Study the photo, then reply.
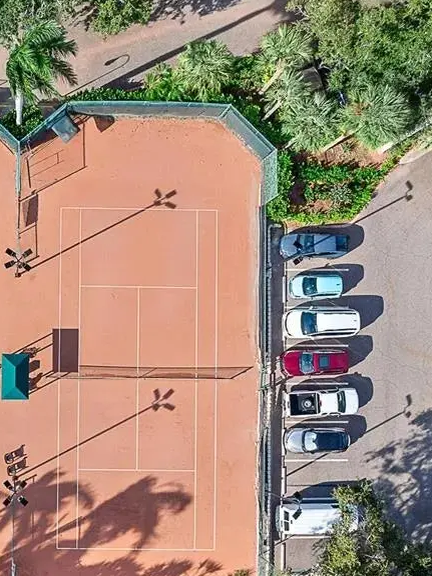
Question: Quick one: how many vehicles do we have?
seven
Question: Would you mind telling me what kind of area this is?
sports ground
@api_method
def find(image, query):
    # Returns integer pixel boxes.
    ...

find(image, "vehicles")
[278,227,350,260]
[279,346,348,378]
[281,304,358,338]
[276,499,368,537]
[287,271,344,299]
[281,385,359,418]
[283,425,349,456]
